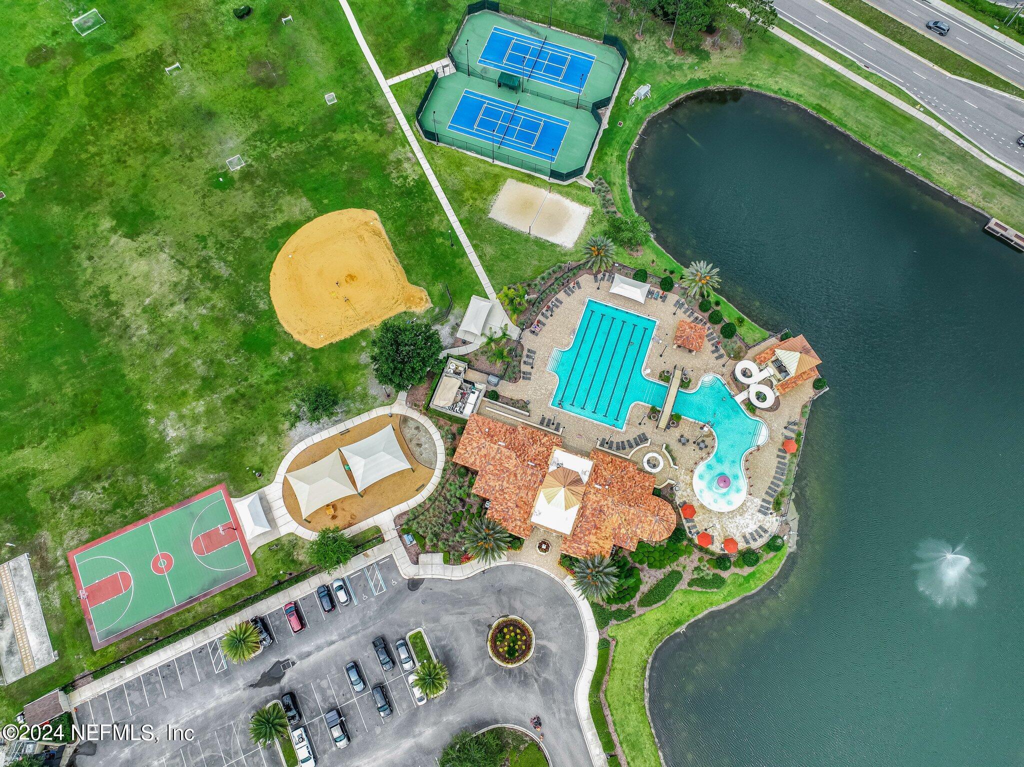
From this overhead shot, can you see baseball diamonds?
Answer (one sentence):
Yes, you can see a baseball diamond in this photo.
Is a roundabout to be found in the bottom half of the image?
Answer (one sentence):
Yes, a roundabout is visible in the bottom half of the image.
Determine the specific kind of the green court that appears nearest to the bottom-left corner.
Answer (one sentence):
I'd identify the green court that appears nearest to the bottom-left corner as a basketball court.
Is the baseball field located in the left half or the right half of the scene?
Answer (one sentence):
The baseball field appears in the left half of the scene.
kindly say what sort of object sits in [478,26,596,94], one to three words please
tennis court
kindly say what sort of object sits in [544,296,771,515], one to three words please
swimming pool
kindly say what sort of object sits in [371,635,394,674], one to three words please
truck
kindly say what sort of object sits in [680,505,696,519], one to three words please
umbrella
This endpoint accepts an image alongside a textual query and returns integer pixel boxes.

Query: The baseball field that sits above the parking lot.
[270,207,433,349]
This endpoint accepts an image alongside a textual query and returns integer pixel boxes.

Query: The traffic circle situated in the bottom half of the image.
[486,613,537,670]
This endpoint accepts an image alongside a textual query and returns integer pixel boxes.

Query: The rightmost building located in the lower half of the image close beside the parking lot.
[453,414,677,563]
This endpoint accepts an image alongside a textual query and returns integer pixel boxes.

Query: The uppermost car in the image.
[926,22,950,36]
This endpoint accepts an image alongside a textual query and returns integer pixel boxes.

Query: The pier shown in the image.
[983,216,1024,253]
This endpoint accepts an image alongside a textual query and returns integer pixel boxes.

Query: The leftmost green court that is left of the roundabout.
[67,483,256,650]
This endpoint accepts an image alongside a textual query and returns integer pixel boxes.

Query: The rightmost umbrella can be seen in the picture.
[782,440,797,454]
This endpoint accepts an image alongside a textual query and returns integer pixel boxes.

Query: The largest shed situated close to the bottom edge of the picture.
[23,689,71,729]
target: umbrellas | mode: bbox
[723,538,739,553]
[680,505,696,519]
[697,532,712,548]
[782,440,797,454]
